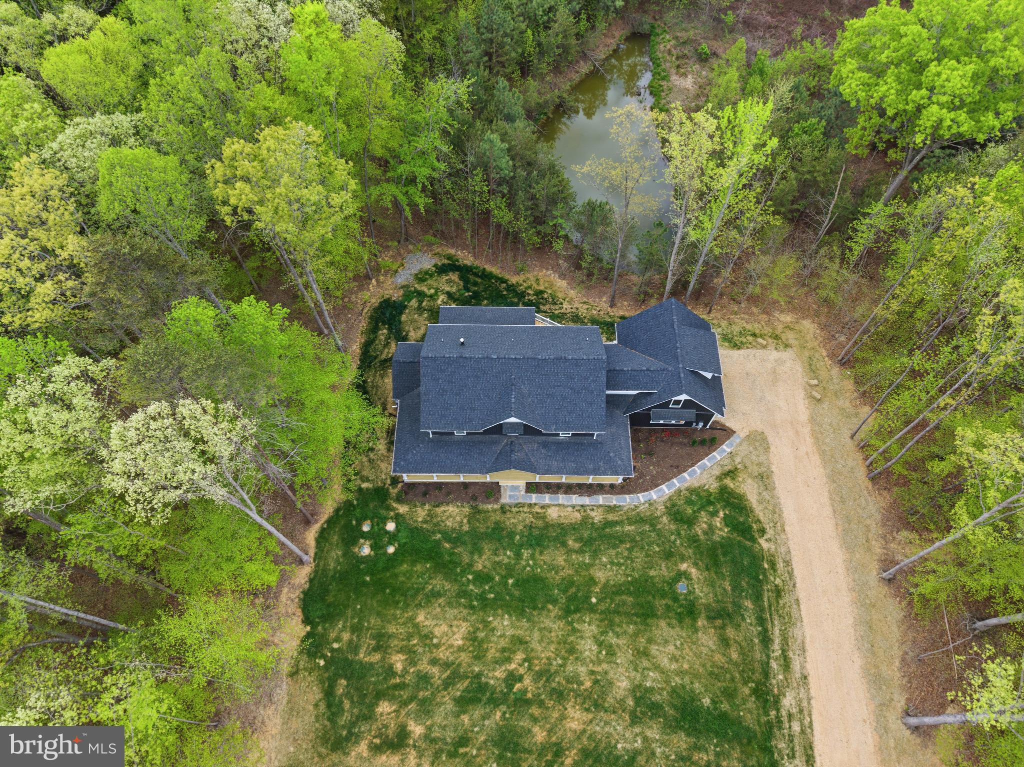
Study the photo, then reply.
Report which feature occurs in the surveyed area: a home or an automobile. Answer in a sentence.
It is a home that can be seen here.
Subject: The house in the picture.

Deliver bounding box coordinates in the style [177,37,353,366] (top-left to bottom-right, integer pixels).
[390,299,724,489]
